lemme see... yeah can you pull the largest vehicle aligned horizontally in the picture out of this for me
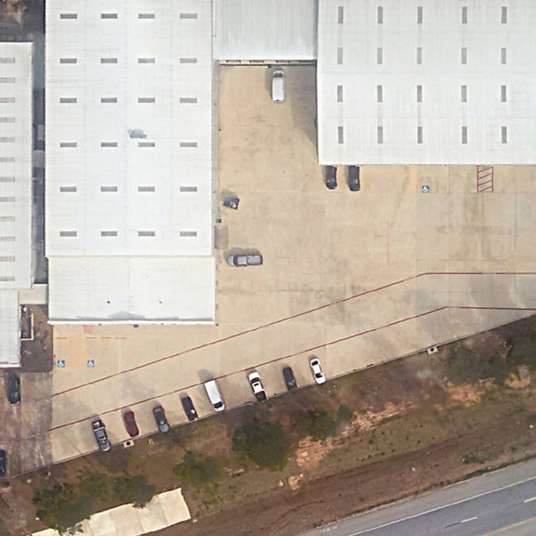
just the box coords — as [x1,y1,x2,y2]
[228,254,264,267]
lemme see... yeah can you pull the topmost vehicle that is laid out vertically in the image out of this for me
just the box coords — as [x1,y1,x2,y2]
[271,71,286,102]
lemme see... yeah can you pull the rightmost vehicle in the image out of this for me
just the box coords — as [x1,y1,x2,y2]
[348,165,360,191]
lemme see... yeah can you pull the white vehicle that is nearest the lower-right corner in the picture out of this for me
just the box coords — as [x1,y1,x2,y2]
[310,357,326,384]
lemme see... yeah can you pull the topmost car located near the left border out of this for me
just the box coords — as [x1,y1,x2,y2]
[9,376,21,404]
